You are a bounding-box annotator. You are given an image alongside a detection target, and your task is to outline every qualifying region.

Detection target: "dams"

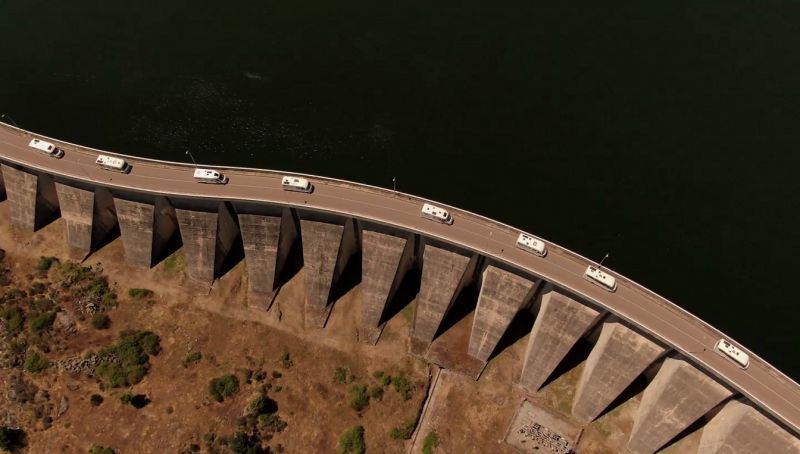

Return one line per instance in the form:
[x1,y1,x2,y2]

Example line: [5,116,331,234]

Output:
[0,120,800,454]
